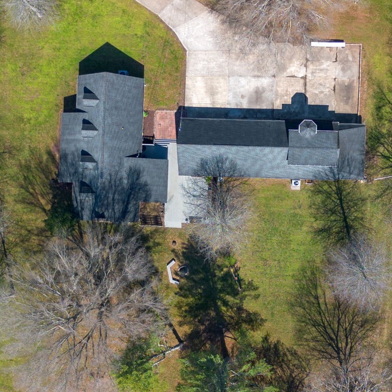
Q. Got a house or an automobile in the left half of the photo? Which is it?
house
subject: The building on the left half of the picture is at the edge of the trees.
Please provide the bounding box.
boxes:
[58,72,169,222]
